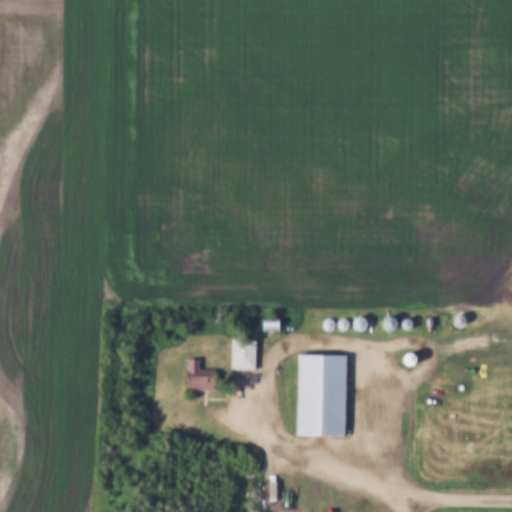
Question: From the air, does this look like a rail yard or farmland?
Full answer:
It's farmland.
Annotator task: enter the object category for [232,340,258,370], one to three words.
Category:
building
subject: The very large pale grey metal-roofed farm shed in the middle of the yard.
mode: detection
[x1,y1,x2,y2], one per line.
[296,355,348,438]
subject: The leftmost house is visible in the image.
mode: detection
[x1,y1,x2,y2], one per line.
[188,359,216,392]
